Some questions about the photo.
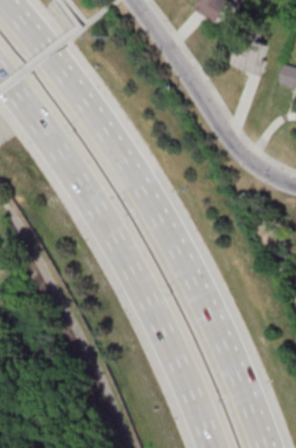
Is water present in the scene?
No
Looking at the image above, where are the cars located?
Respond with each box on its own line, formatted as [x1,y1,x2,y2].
[204,430,212,442]
[72,184,81,194]
[41,108,49,118]
[156,331,164,340]
[204,309,212,321]
[40,119,48,128]
[248,368,256,381]
[0,69,8,78]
